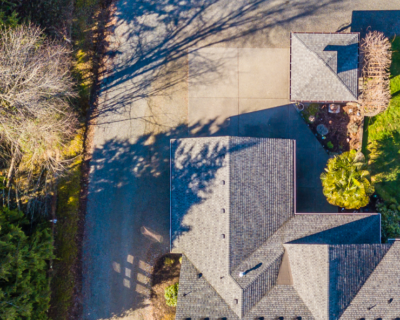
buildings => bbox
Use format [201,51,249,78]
[168,136,400,320]
[289,30,362,104]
